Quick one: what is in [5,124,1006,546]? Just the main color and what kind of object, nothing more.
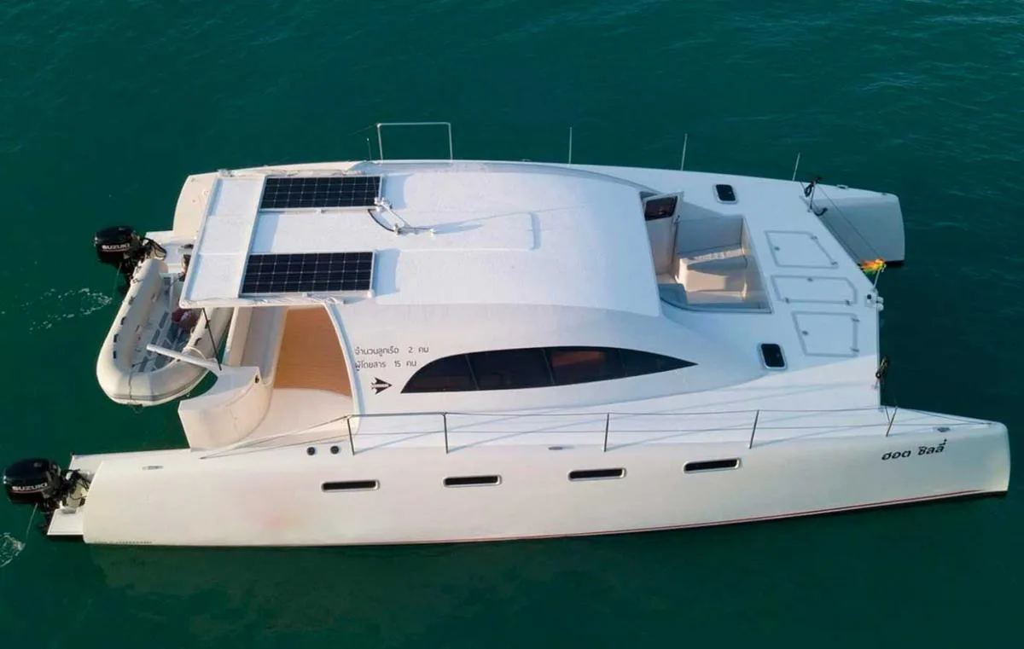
white boat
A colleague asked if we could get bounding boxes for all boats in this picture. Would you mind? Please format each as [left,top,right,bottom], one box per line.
[5,124,1006,546]
[98,254,233,438]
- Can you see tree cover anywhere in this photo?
No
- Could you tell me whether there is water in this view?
Yes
